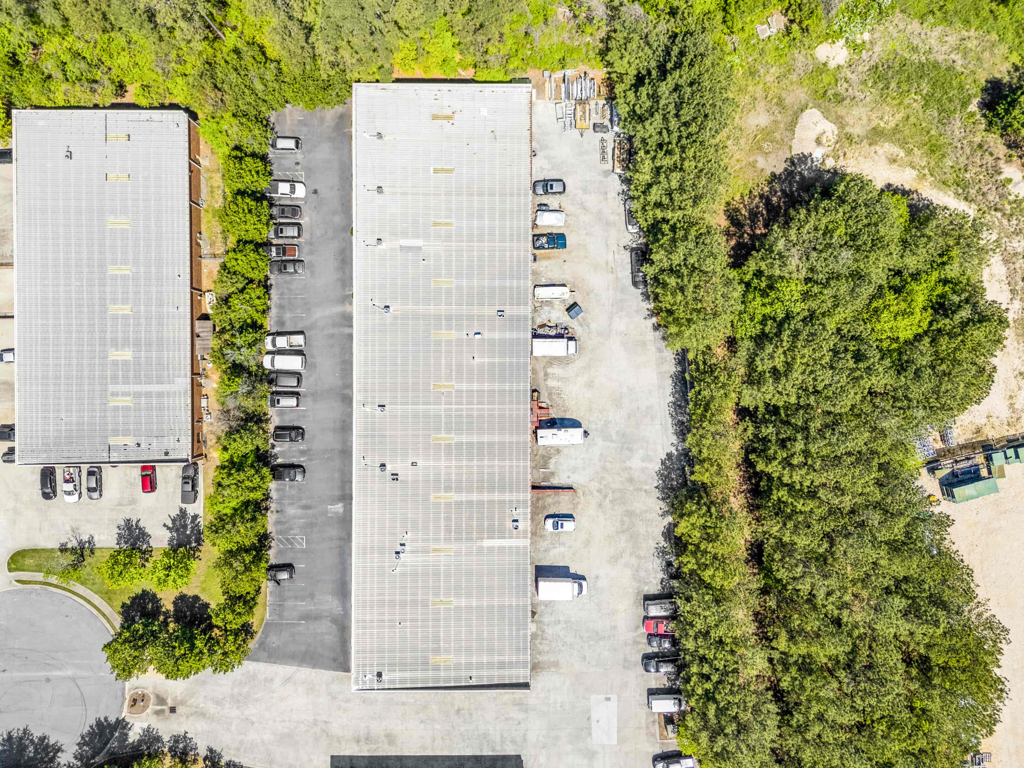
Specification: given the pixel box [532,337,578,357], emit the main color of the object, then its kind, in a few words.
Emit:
white vehicle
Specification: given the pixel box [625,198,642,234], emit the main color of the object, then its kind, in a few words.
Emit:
gray car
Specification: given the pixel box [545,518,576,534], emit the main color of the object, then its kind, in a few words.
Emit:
white car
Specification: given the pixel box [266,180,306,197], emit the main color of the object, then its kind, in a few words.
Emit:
white vehicle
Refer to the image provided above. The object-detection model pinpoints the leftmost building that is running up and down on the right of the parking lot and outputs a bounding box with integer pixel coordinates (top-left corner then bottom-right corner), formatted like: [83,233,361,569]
[352,82,534,692]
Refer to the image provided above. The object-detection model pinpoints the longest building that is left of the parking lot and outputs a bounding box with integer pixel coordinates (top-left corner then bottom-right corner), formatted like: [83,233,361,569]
[8,107,204,464]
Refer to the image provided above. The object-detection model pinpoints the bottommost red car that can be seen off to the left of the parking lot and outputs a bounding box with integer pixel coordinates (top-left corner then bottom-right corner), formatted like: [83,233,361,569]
[139,463,157,494]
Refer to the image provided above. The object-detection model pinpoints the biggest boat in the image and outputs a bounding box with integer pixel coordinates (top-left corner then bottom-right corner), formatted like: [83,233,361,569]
[534,285,577,301]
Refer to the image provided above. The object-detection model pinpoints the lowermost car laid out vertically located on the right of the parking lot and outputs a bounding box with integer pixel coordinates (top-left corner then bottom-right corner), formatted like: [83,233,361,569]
[631,248,649,289]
